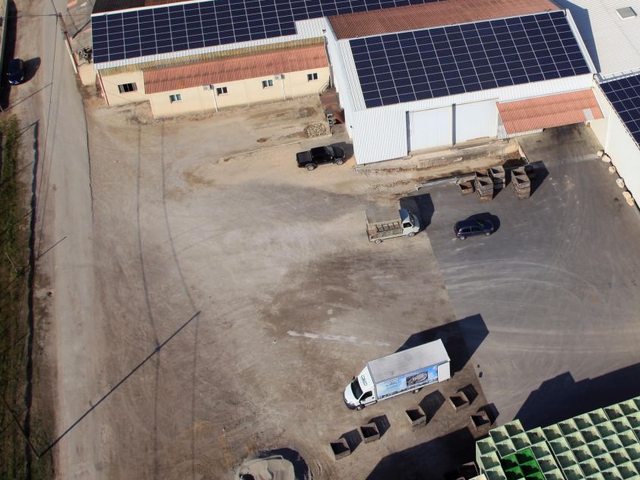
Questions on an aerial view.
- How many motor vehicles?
5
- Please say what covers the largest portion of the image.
paved ground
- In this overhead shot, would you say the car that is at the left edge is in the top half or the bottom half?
top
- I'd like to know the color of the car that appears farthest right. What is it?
black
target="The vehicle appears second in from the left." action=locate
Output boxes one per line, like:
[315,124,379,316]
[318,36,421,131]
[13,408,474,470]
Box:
[298,143,349,169]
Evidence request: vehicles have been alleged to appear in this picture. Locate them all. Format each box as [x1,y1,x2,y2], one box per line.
[340,339,444,410]
[452,215,493,239]
[298,143,349,169]
[2,52,24,82]
[360,206,424,241]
